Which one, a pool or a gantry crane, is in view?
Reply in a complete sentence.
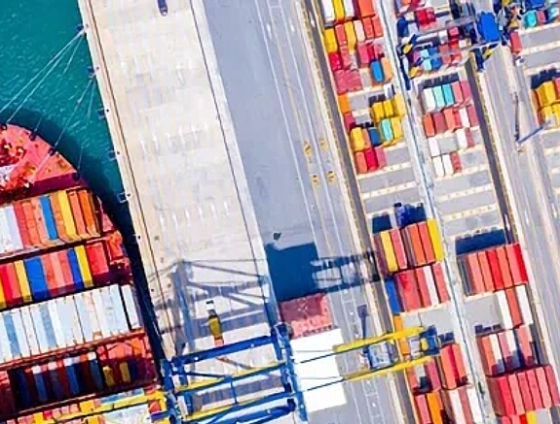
Visible in the photo is a gantry crane.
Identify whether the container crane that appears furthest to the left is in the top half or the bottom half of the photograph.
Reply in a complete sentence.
The container crane that appears furthest to the left sits in the bottom half of the picture.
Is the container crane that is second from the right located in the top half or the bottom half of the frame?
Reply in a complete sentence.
Seen from above, the container crane that is second from the right lies in the top half of the view.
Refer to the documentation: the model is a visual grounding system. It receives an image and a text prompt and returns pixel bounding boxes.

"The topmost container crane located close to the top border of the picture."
[495,0,560,45]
